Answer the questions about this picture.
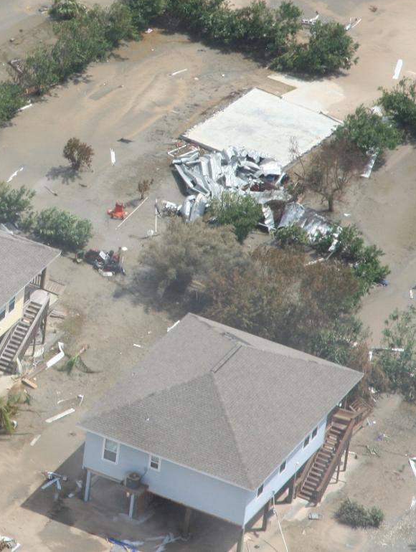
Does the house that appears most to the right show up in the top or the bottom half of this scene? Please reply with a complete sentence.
The house that appears most to the right is in the bottom half of the image.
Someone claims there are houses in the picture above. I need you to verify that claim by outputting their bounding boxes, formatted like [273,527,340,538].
[0,231,64,375]
[75,313,367,552]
